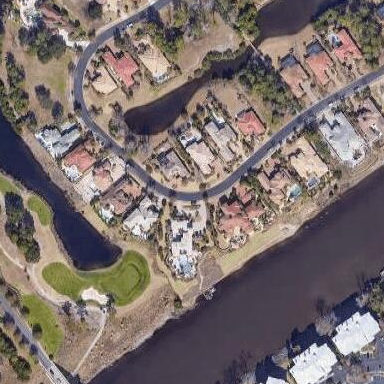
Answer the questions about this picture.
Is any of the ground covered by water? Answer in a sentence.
Yes, water can be seen from above here.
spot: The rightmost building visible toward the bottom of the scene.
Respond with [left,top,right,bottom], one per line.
[332,312,380,356]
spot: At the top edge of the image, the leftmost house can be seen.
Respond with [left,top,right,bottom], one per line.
[39,3,68,32]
